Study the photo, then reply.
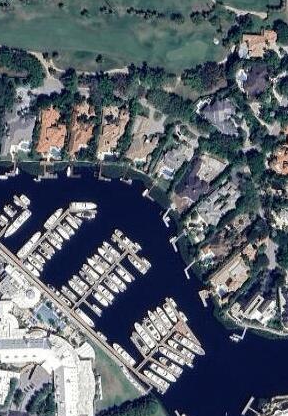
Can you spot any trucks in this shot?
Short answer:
No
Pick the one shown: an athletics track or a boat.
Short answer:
boat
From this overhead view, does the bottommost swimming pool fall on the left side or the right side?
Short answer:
left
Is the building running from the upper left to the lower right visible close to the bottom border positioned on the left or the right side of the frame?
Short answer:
left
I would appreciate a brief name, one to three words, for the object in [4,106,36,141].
house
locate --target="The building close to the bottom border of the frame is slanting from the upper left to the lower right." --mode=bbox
[0,302,96,416]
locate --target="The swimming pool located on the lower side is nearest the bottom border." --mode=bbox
[33,303,65,329]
